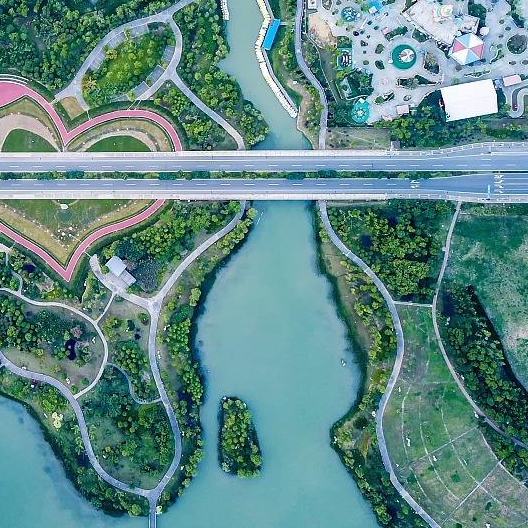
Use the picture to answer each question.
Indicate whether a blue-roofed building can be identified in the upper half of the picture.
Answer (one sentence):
Yes, you'll find a blue-roofed building in the upper half of the picture.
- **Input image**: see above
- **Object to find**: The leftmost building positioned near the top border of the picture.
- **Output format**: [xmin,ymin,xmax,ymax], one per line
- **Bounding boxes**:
[261,19,280,50]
